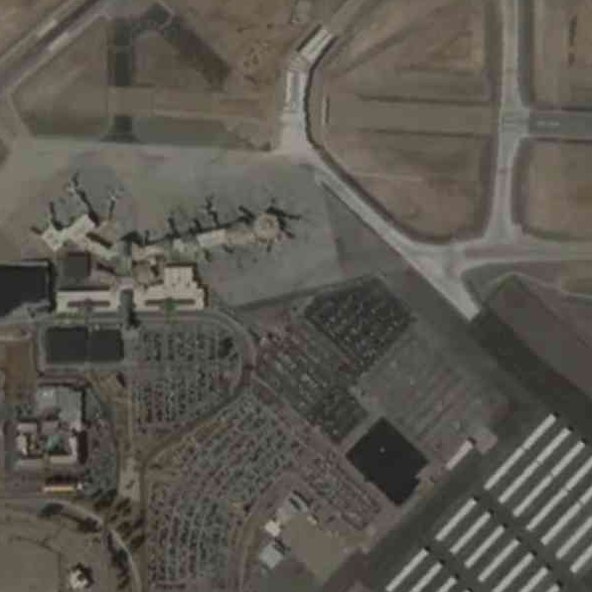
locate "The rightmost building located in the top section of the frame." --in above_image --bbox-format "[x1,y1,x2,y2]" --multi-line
[255,216,278,238]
